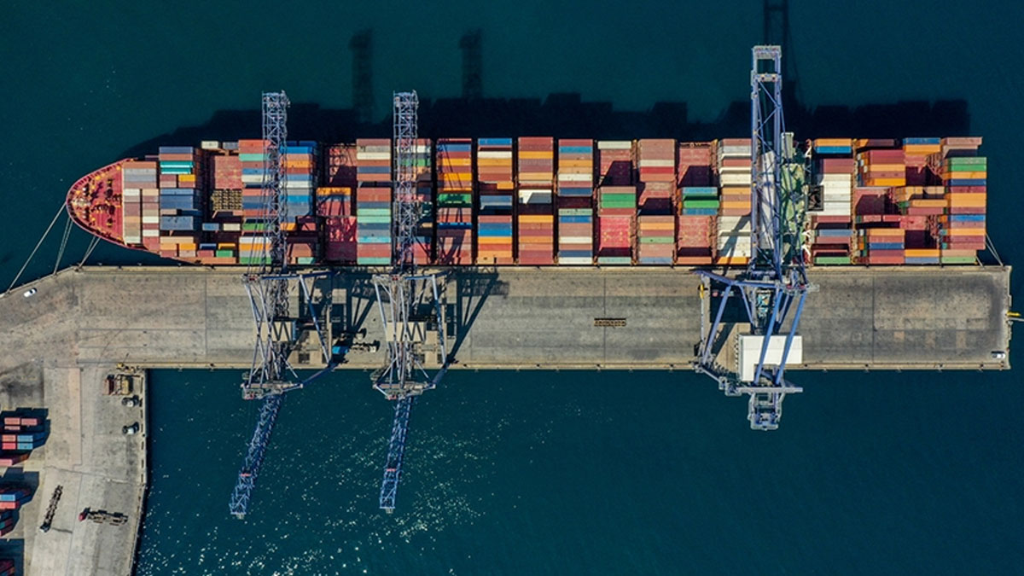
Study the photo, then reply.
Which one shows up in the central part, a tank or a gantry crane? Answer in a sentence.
Visible in the central part is a gantry crane.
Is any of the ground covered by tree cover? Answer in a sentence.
No, there's no tree cover in this view.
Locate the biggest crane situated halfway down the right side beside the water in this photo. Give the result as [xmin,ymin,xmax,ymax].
[687,45,822,431]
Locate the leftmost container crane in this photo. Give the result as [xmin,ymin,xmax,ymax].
[227,90,342,516]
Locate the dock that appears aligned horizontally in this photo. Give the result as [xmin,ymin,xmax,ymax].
[79,264,1012,371]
